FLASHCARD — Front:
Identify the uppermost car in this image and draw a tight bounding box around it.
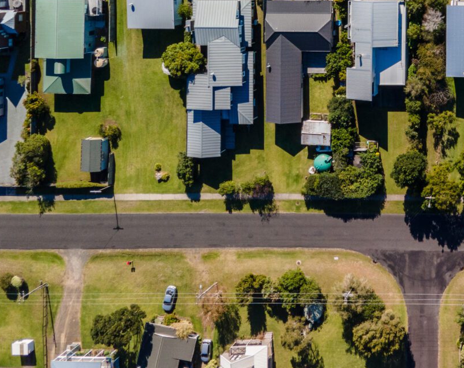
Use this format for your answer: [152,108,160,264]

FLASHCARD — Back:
[163,284,179,312]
